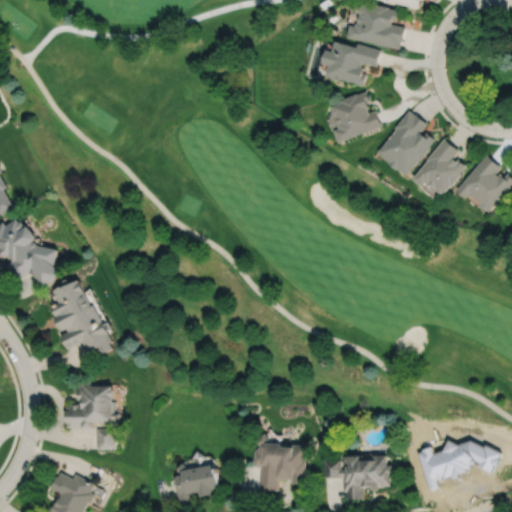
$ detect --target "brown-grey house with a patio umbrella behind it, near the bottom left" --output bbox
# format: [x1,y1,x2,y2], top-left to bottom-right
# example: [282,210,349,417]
[54,472,96,512]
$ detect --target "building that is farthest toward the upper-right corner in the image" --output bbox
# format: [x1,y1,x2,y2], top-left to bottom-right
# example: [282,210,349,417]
[347,6,406,52]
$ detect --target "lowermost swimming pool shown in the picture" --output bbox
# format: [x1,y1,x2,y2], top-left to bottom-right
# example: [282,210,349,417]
[365,429,386,447]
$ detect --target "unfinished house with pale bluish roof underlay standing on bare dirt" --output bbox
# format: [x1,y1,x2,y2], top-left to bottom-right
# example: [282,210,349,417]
[418,434,504,491]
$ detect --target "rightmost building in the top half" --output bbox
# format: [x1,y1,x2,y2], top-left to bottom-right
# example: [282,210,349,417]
[457,154,512,213]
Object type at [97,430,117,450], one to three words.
building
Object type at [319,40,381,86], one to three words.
house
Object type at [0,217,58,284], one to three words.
house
